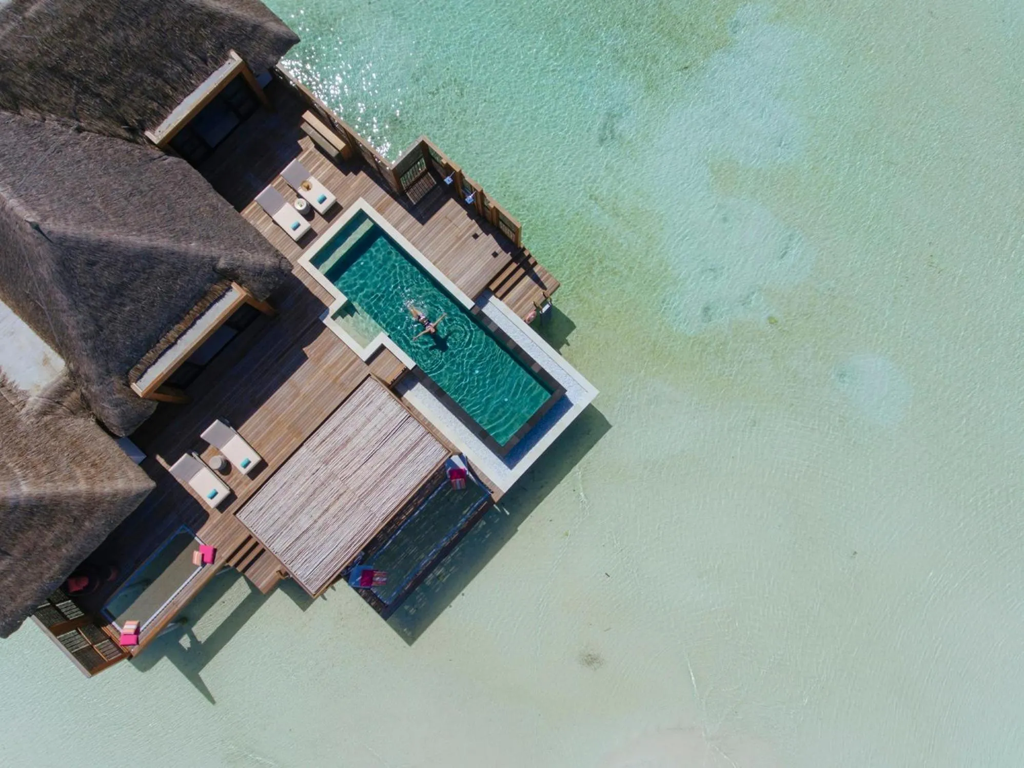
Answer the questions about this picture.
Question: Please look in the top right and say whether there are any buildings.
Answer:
No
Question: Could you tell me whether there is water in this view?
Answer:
Yes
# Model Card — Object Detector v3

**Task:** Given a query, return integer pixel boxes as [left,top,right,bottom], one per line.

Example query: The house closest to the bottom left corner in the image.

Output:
[0,349,163,637]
